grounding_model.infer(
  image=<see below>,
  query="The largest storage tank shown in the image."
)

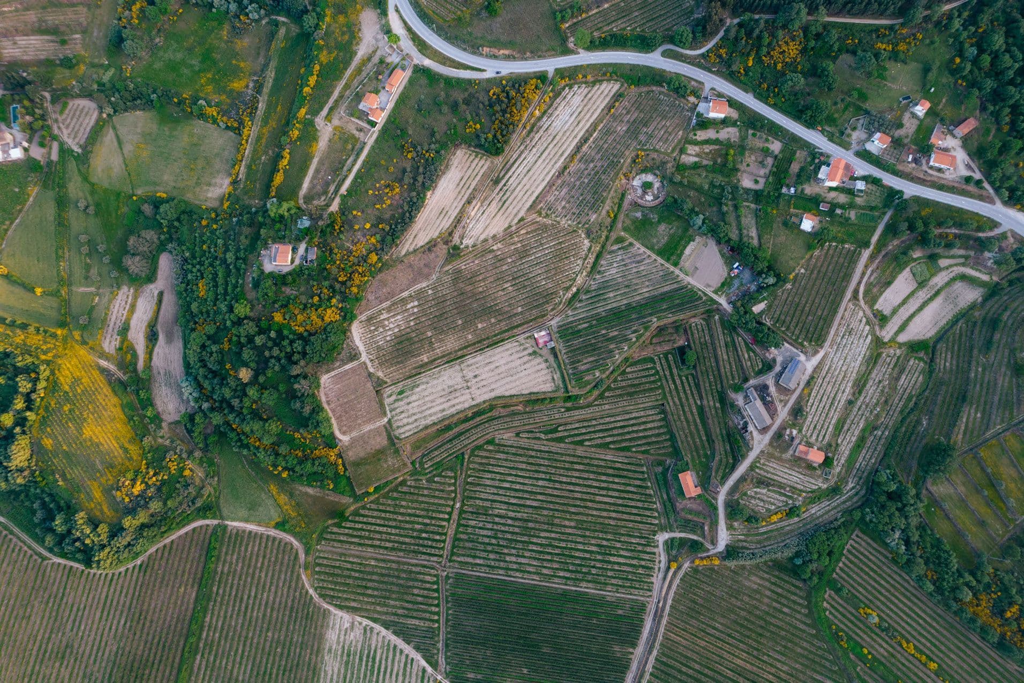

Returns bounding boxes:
[626,169,667,210]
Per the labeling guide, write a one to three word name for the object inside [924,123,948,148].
barn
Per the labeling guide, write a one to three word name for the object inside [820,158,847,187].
house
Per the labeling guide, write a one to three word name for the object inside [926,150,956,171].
house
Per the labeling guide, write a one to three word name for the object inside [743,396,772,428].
barn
